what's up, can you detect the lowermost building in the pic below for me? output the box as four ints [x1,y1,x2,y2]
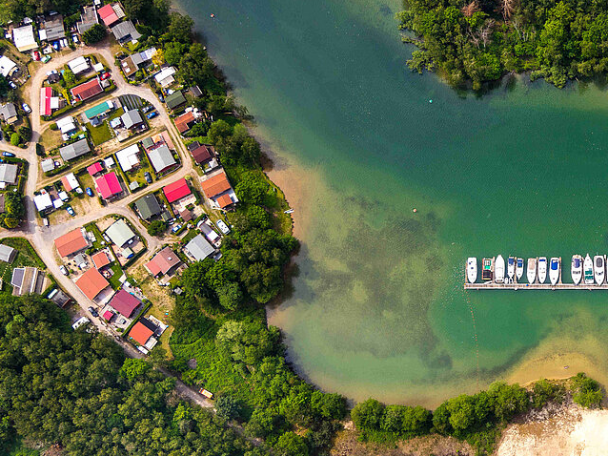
[129,316,160,345]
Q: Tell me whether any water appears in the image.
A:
Yes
